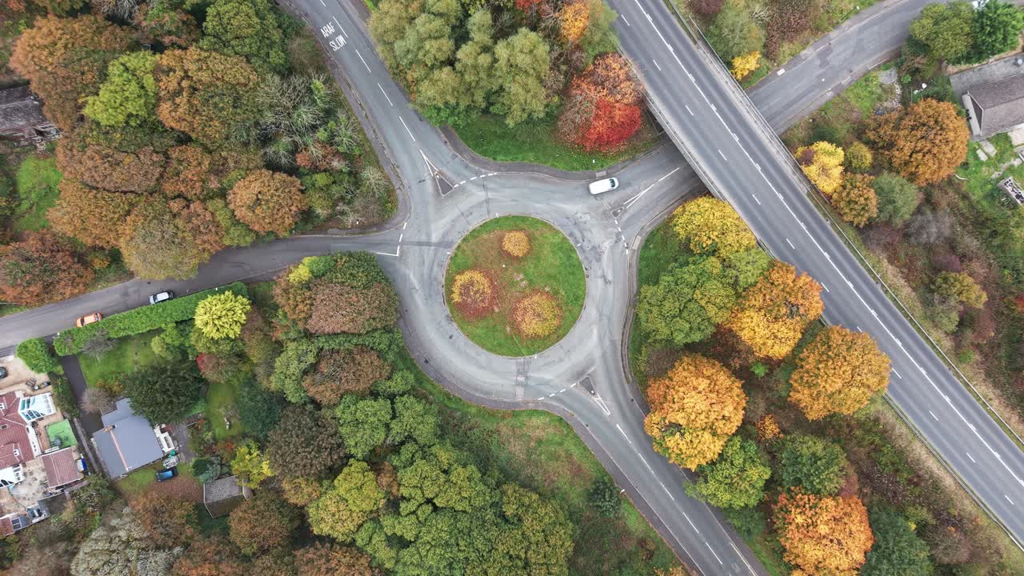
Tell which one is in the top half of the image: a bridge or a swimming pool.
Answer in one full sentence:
Visible in the top half of the image is a bridge.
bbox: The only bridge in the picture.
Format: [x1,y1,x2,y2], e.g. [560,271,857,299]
[623,20,820,248]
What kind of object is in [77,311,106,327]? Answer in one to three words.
car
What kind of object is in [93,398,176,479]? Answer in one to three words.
house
